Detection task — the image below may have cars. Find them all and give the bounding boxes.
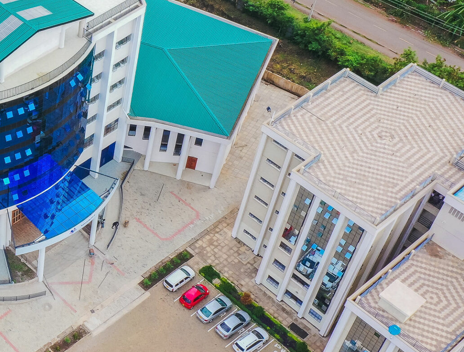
[230,324,271,352]
[181,280,217,309]
[213,309,252,341]
[164,265,201,295]
[195,295,234,325]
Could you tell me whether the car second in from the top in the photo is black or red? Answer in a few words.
red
